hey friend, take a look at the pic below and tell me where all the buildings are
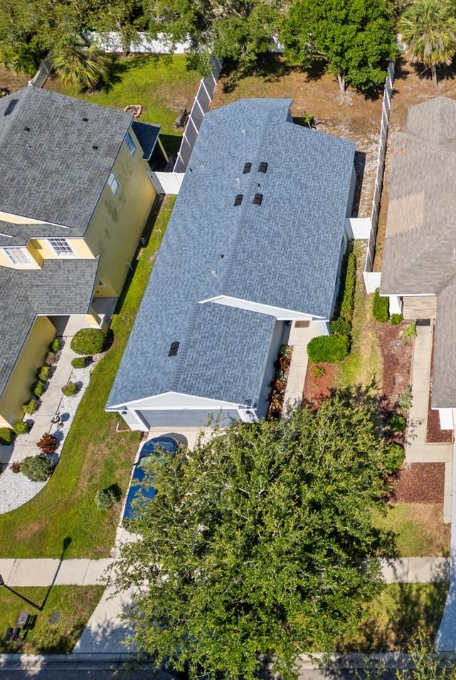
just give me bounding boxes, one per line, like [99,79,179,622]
[376,97,456,427]
[0,89,175,429]
[106,97,357,427]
